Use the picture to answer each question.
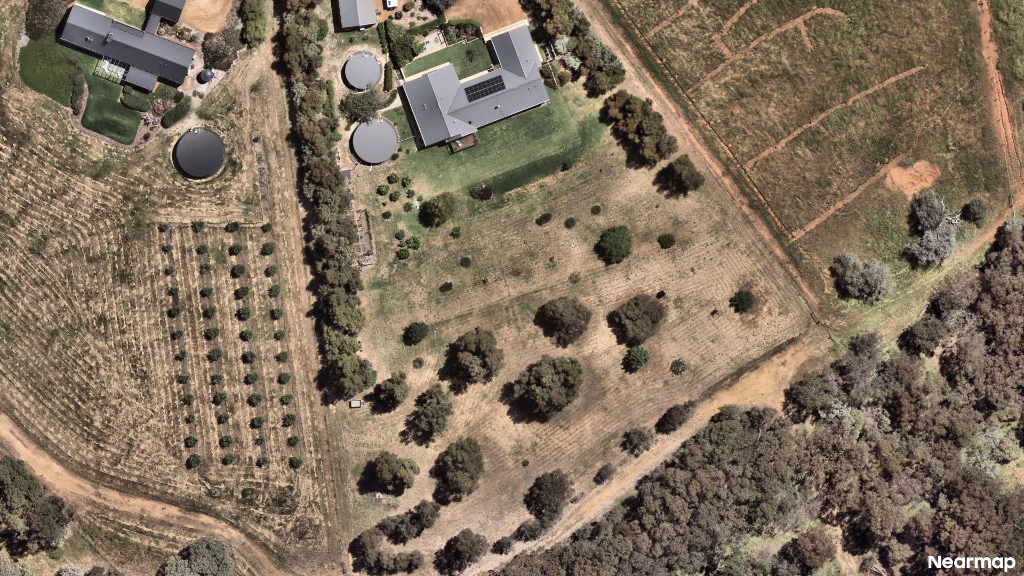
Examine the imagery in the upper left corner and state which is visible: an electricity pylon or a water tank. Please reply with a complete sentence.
You can see a water tank in the upper left corner.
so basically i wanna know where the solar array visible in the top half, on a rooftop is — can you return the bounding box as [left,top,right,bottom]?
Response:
[464,75,505,102]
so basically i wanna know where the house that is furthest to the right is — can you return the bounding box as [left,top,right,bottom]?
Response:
[403,25,551,146]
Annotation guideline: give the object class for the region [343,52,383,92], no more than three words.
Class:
water tank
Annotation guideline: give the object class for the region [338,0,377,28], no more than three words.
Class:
shed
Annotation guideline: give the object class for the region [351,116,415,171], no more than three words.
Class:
water tank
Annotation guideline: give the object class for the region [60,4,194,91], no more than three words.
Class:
house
